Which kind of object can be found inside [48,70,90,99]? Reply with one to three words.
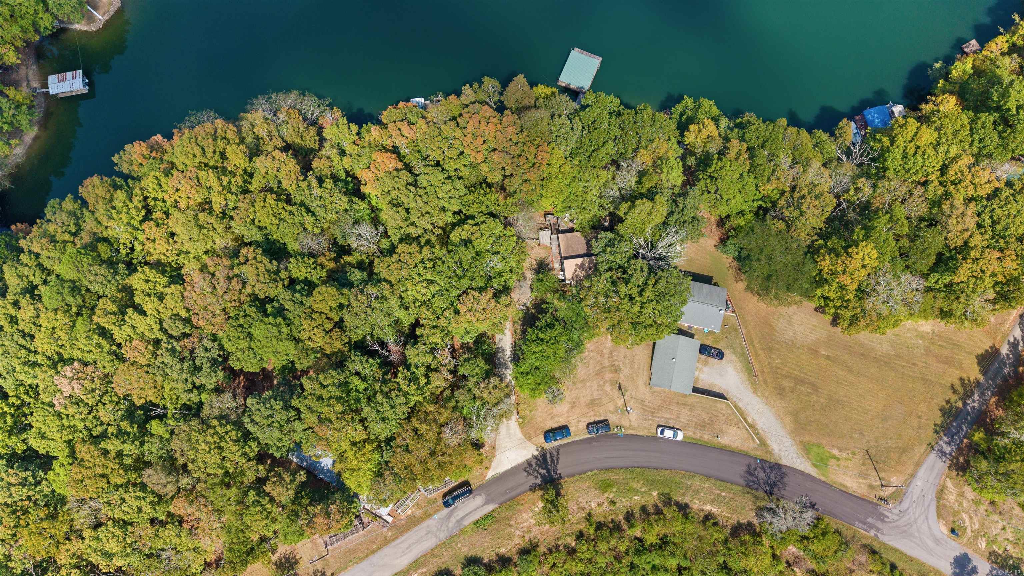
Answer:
pier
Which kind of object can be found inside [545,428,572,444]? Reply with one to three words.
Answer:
car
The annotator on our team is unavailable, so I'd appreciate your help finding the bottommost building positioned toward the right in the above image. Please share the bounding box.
[650,334,700,393]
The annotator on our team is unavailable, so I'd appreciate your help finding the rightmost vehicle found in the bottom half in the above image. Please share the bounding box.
[698,345,725,359]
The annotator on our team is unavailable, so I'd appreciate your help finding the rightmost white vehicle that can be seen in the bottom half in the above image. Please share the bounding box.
[655,426,683,440]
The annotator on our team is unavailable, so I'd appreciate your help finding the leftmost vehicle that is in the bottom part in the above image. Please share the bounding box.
[442,487,473,510]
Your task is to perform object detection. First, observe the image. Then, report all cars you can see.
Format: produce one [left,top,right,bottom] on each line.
[698,345,725,359]
[588,423,612,436]
[545,428,572,444]
[655,426,683,440]
[442,487,473,510]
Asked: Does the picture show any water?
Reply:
Yes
